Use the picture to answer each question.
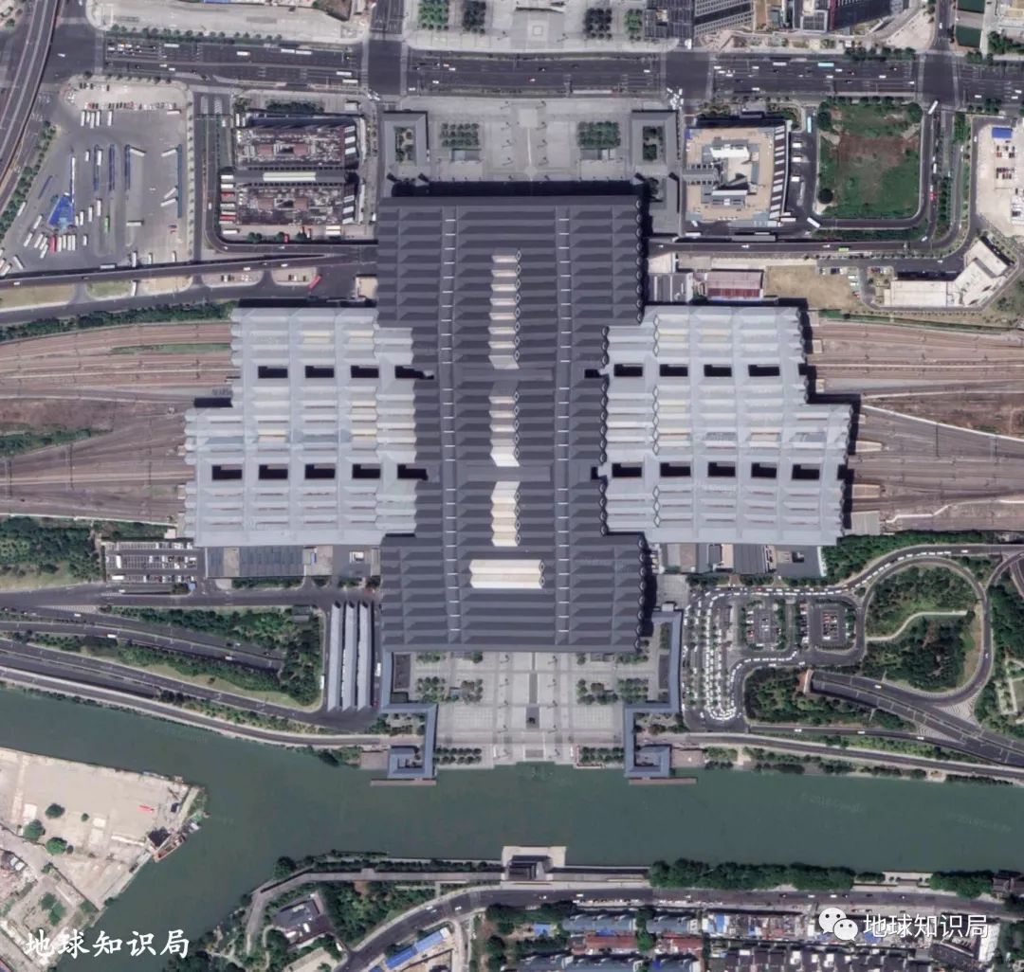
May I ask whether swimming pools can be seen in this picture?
No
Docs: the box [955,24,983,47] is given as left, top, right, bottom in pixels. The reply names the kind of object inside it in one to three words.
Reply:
sports court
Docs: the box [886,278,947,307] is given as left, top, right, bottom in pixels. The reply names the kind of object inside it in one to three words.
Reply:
building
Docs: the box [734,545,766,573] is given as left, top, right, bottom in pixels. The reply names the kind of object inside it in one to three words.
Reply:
shed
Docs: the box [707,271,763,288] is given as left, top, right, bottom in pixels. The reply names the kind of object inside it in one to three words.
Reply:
shed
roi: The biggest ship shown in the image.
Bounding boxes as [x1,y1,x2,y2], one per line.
[154,831,187,863]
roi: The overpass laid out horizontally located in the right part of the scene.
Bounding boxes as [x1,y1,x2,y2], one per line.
[648,239,908,254]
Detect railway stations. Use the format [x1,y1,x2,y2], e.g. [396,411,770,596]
[177,196,882,652]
